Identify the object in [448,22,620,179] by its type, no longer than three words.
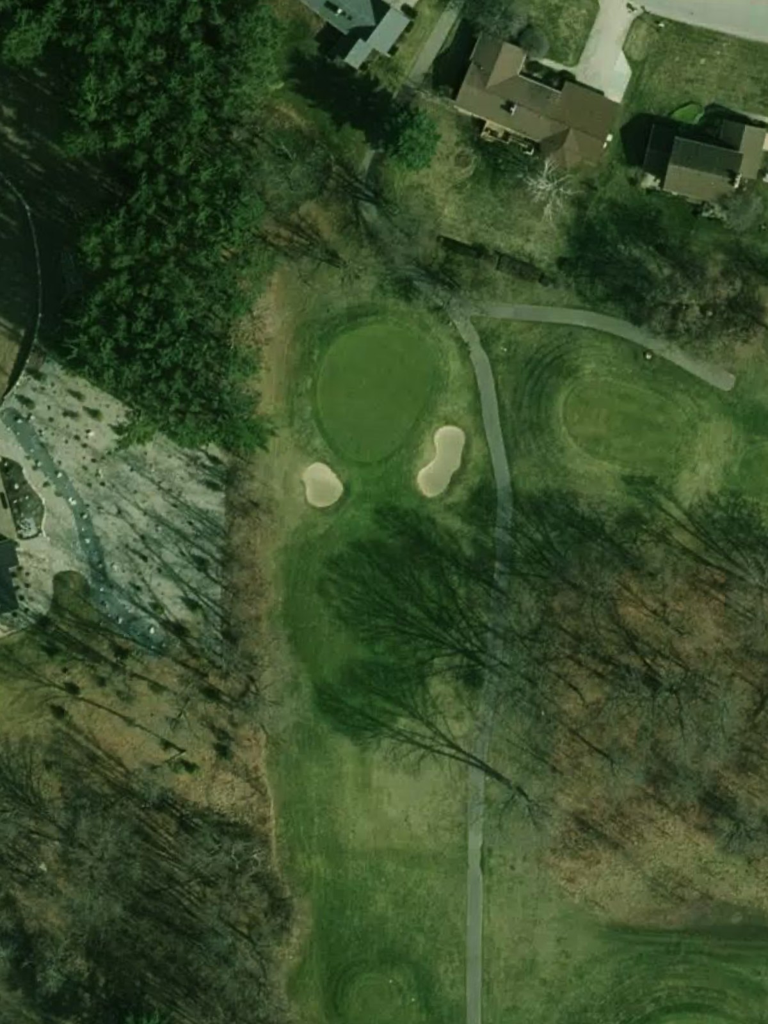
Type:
house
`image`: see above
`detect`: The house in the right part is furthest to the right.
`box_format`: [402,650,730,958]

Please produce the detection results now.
[640,120,768,208]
